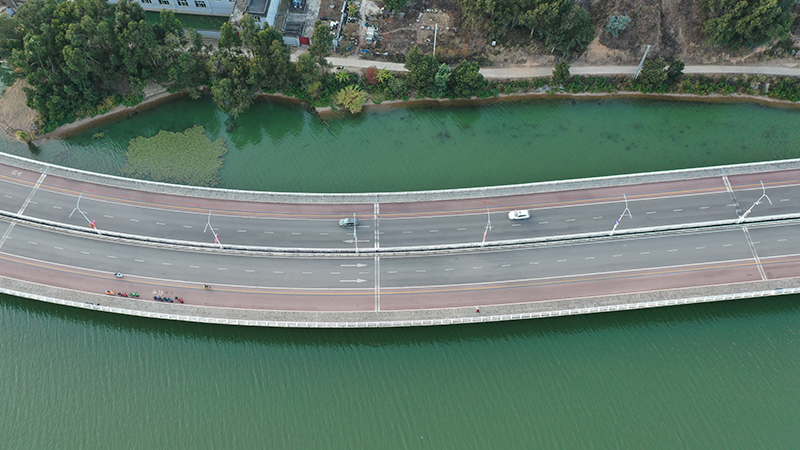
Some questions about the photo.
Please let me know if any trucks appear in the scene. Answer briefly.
No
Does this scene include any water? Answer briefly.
Yes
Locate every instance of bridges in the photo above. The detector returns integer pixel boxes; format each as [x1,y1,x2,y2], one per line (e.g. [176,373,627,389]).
[0,154,800,330]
